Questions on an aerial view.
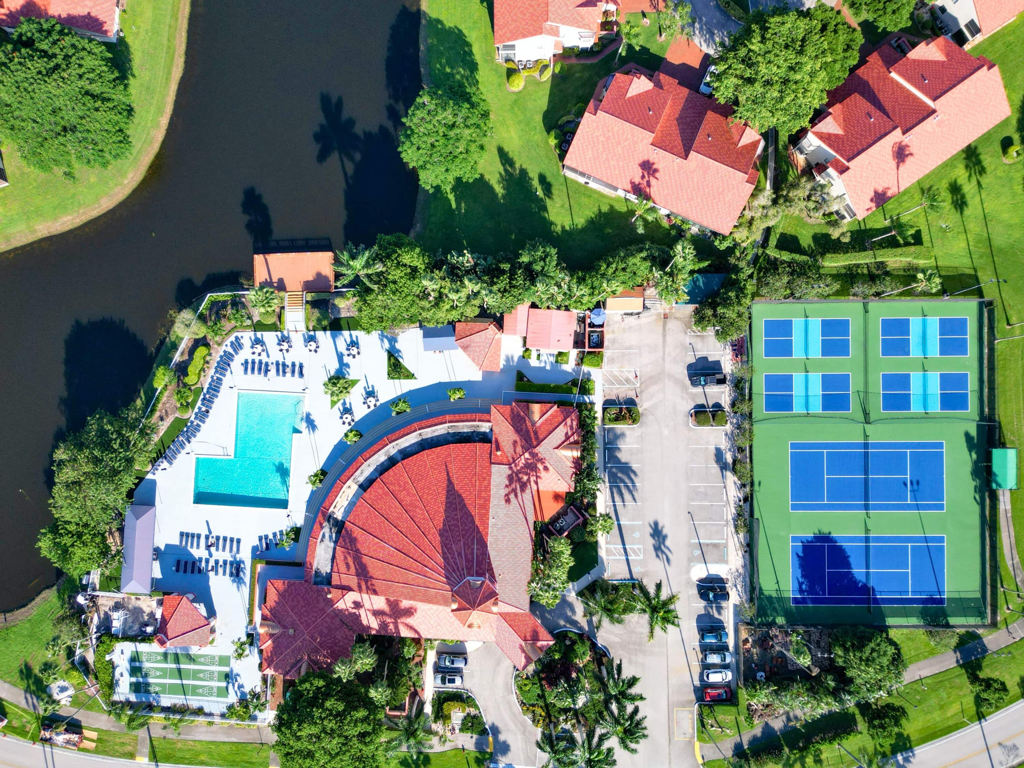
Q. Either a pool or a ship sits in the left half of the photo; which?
pool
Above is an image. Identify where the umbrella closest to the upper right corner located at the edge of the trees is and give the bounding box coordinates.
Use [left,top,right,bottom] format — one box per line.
[591,309,606,324]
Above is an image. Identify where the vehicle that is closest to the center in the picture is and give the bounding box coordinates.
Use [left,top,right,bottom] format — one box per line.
[690,373,726,388]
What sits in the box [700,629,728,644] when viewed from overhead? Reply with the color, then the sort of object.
blue car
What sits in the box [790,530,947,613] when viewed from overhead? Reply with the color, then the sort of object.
blue tennis court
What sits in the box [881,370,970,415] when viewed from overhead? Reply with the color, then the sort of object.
blue sports court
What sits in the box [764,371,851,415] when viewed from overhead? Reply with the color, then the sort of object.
blue sports court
